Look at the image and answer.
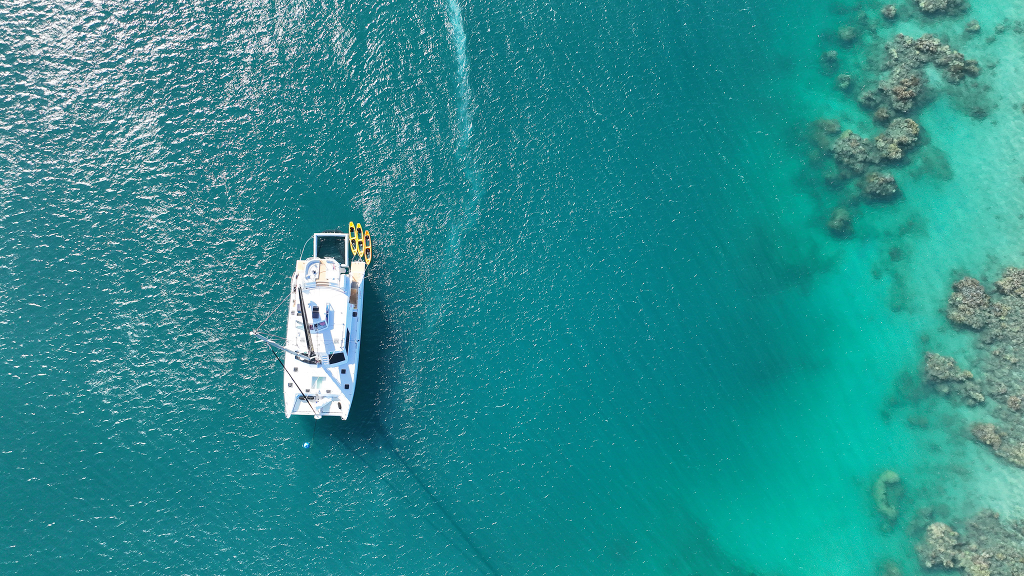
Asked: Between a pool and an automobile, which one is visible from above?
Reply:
pool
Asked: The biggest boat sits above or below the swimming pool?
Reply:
below it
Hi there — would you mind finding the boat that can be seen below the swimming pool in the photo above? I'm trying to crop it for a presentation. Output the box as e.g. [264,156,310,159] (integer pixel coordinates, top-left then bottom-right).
[248,258,368,421]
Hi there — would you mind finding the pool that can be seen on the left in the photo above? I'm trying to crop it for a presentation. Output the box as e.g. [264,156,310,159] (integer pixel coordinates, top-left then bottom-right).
[312,233,349,268]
